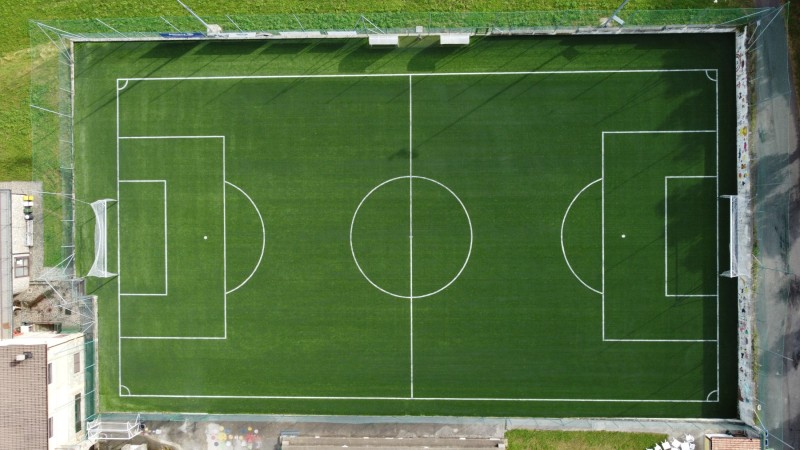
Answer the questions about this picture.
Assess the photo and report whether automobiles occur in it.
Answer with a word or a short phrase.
No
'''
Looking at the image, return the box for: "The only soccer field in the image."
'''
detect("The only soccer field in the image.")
[74,34,739,420]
